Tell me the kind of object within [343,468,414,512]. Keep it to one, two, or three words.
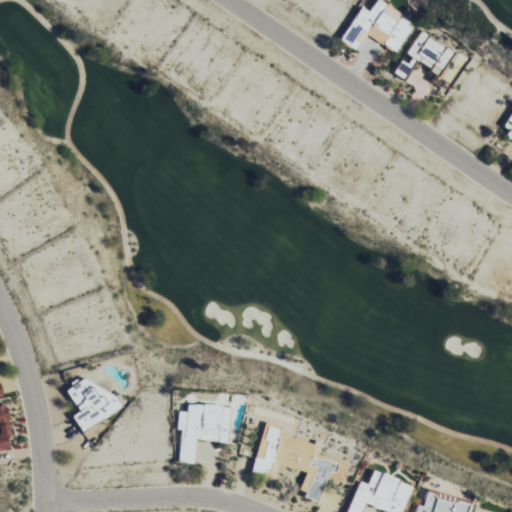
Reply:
house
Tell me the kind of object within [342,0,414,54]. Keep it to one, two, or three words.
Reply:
house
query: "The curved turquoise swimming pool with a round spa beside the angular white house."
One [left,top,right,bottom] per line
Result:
[106,364,130,390]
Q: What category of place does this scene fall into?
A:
golf course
